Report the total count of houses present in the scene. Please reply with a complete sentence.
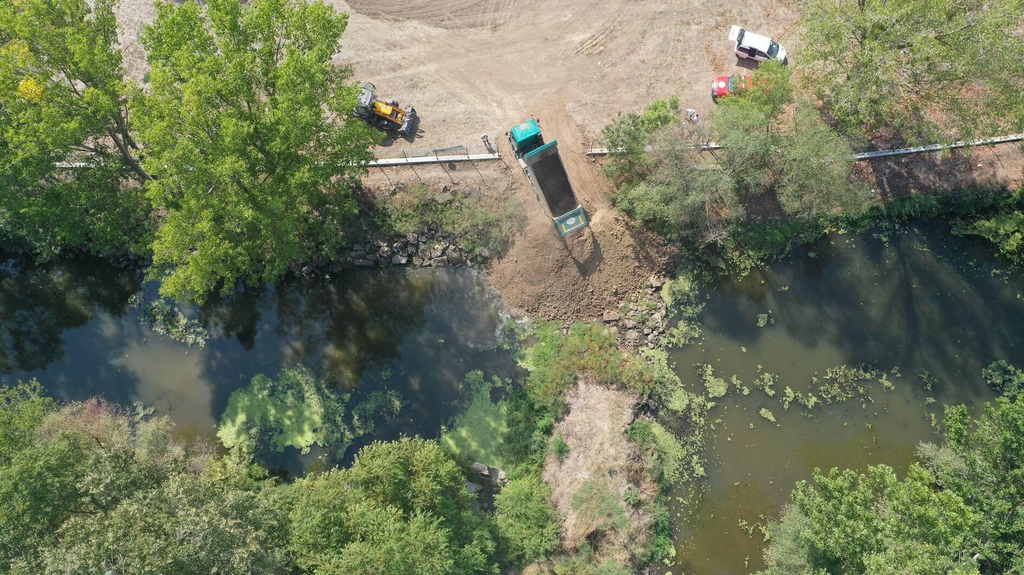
The count of houses is 0.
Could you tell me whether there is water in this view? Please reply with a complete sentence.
Yes, the picture does contain water.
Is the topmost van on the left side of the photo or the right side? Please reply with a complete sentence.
The topmost van sits on the right side.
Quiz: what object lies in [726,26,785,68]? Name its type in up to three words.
van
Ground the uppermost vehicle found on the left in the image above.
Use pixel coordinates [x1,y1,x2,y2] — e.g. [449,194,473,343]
[339,80,419,137]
